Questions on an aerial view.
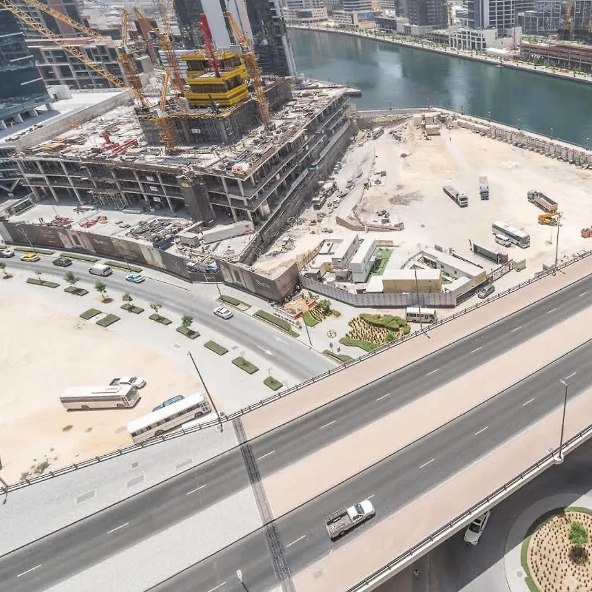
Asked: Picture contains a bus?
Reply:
Yes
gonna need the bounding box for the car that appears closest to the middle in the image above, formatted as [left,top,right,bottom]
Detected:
[213,306,232,319]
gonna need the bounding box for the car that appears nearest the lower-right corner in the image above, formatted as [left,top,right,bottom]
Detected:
[465,510,491,543]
